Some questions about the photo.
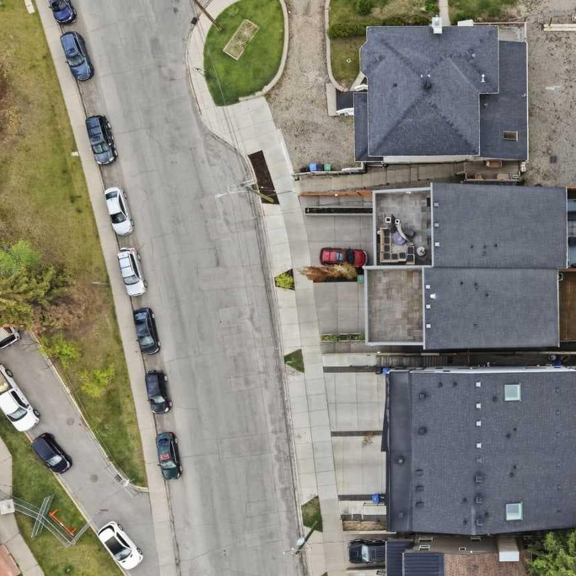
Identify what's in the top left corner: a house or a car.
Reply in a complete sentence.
What appears in the top left corner is a car.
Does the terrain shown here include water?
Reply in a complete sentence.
No, the picture contains no water.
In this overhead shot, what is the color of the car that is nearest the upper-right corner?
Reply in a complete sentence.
The car that is nearest the upper-right corner is red.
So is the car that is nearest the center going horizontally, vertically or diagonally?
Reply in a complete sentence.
In this picture, the car that is nearest the center is oriented horizontally.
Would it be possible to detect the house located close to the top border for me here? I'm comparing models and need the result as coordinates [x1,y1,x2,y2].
[354,8,528,163]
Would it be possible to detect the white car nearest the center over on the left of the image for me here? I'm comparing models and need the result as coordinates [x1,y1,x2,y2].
[116,246,150,298]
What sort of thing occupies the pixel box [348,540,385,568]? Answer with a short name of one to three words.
truck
